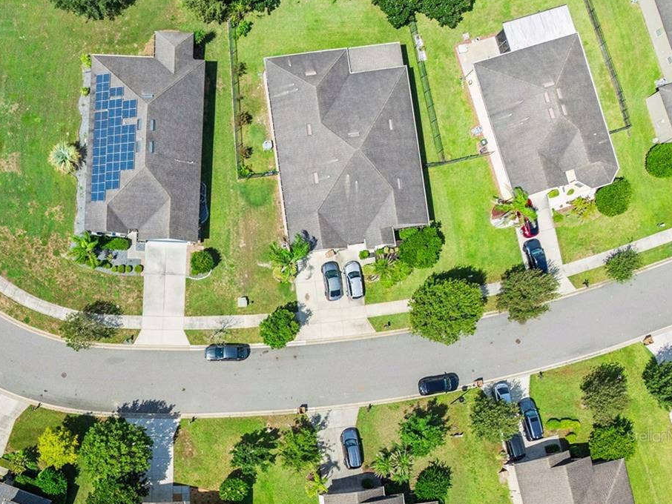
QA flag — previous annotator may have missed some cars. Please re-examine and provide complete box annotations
[519,239,549,280]
[518,218,539,242]
[488,375,512,419]
[341,258,365,302]
[518,397,546,443]
[503,429,531,465]
[320,260,343,304]
[338,426,363,470]
[415,372,459,395]
[205,343,248,363]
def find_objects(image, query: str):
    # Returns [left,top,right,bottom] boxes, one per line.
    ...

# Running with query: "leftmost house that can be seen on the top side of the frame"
[83,30,206,243]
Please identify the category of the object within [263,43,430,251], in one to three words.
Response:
house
